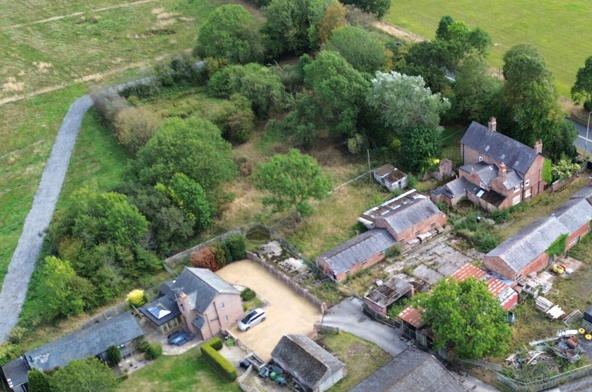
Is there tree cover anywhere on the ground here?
Yes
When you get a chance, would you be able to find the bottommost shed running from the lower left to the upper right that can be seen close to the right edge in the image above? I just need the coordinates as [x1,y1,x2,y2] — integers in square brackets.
[486,185,592,285]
